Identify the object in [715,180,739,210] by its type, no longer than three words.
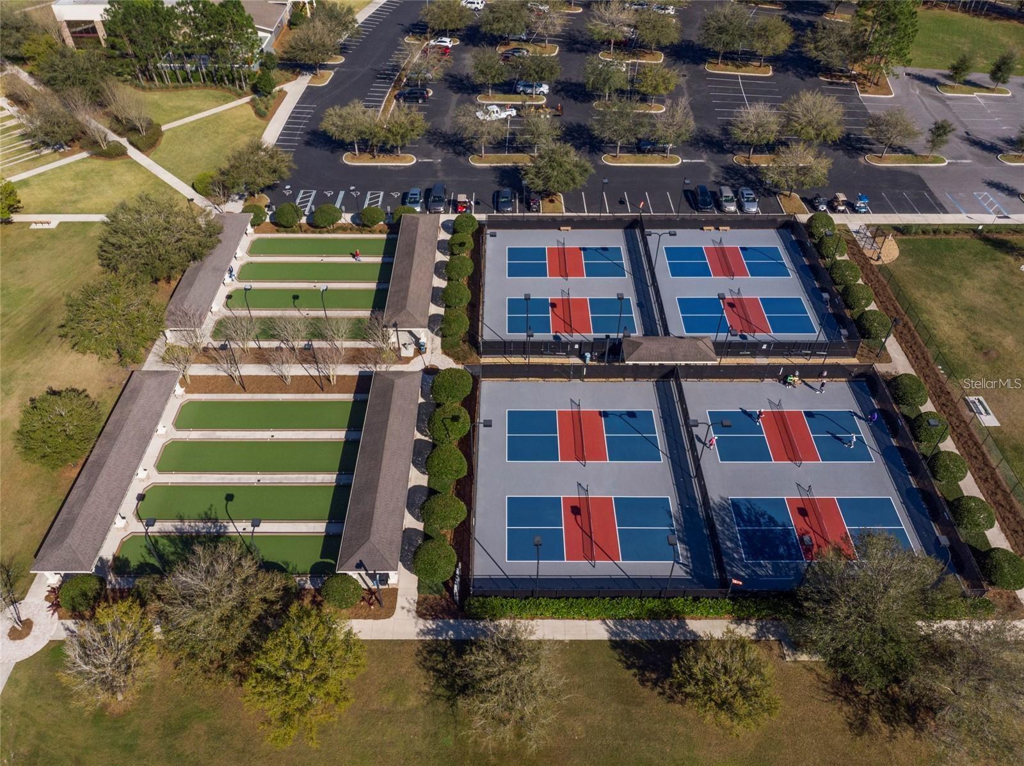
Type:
vehicle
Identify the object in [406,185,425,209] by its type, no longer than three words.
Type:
car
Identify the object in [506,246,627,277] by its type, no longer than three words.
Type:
sports court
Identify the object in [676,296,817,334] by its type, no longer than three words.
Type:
sports court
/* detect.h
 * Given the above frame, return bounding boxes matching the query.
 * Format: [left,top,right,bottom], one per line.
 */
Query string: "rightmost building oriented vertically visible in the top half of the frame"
[381,213,441,349]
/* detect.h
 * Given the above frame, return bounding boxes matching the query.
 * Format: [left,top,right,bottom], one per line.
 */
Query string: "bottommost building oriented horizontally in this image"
[621,336,719,364]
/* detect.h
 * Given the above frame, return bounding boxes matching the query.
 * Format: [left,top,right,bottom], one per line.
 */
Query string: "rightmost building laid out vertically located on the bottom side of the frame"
[335,370,423,584]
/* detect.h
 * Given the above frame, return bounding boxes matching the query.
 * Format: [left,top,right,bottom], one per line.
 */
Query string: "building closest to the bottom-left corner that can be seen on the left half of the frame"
[28,369,186,585]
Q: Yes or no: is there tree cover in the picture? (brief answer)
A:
Yes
